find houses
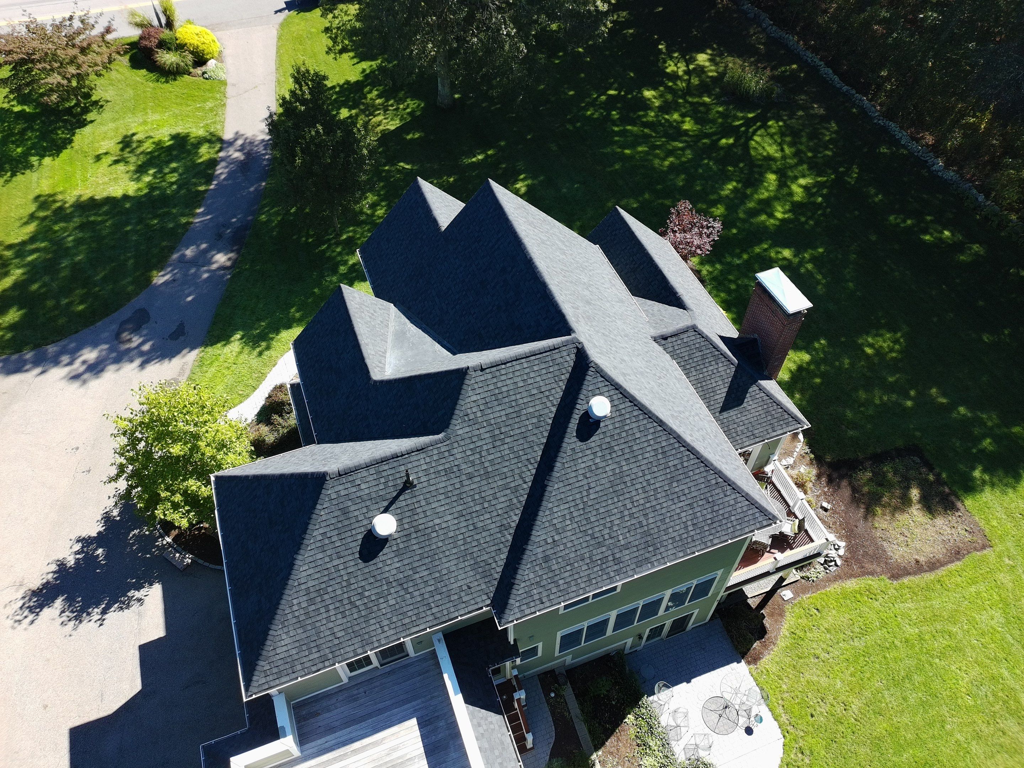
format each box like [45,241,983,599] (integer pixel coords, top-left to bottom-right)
[200,177,815,768]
